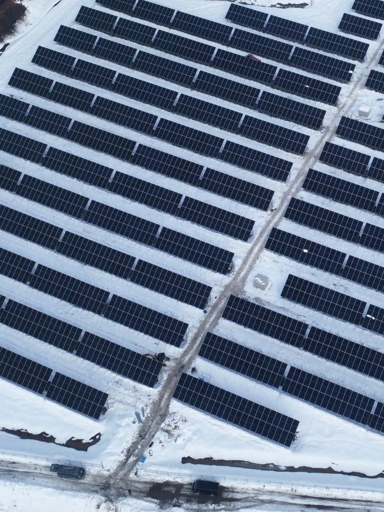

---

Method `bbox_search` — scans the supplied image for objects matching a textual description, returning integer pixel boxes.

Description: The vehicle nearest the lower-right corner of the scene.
[190,480,219,495]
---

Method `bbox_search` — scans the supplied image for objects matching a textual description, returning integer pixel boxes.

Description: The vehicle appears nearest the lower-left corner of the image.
[47,462,84,479]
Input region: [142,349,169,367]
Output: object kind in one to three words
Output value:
work vehicle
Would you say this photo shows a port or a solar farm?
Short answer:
solar farm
